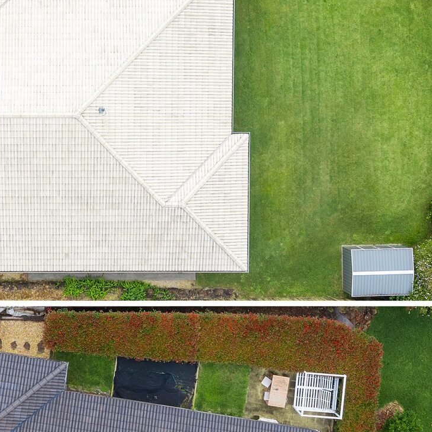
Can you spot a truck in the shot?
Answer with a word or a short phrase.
No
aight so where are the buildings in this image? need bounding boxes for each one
[343,244,416,297]
[0,0,251,274]
[0,351,316,432]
